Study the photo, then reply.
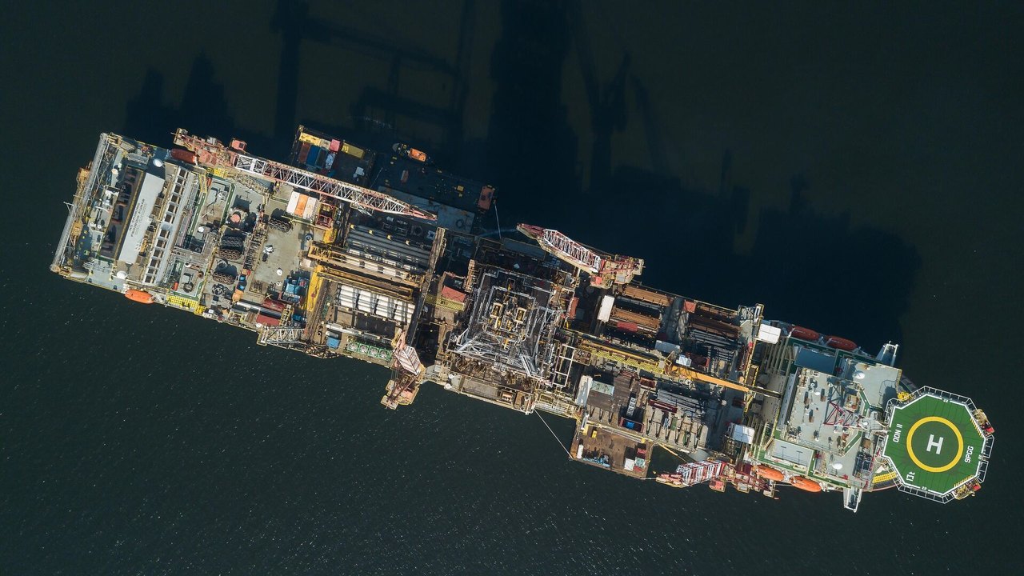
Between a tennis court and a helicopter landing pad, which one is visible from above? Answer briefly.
helicopter landing pad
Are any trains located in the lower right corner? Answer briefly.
No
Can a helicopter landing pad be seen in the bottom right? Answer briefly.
Yes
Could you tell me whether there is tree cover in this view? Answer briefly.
No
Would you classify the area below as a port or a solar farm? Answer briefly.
port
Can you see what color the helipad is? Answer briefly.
green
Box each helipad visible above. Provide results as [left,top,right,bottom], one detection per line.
[874,386,995,503]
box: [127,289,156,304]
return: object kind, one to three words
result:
boat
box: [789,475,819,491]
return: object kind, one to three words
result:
boat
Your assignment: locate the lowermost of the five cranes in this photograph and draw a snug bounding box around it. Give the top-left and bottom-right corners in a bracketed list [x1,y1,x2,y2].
[617,431,779,499]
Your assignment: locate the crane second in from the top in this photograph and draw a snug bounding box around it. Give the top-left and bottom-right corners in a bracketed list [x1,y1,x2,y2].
[510,223,649,299]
